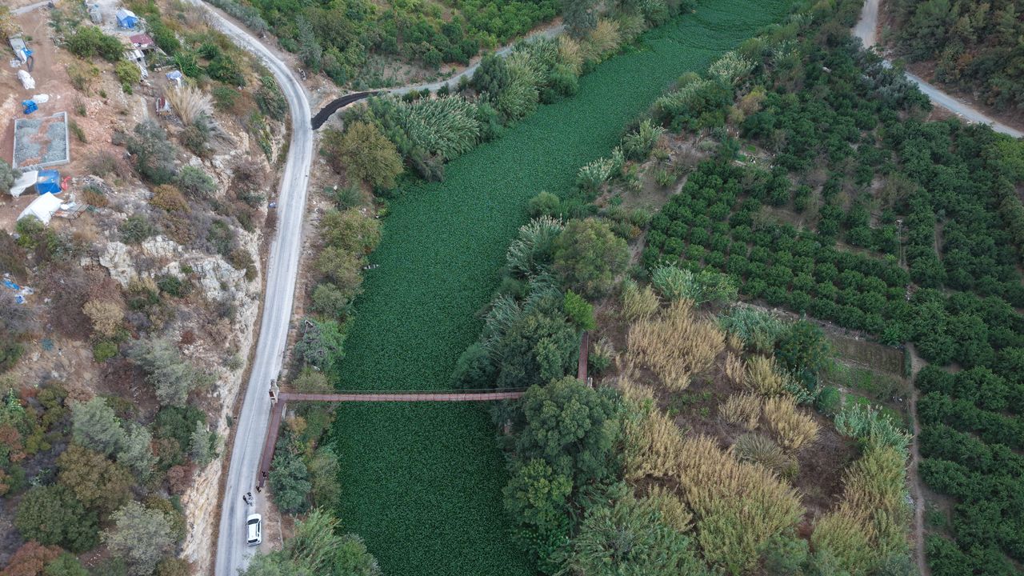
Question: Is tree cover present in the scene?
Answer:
Yes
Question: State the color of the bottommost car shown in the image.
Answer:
white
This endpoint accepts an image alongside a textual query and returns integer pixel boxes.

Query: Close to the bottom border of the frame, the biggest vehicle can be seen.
[244,513,265,548]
